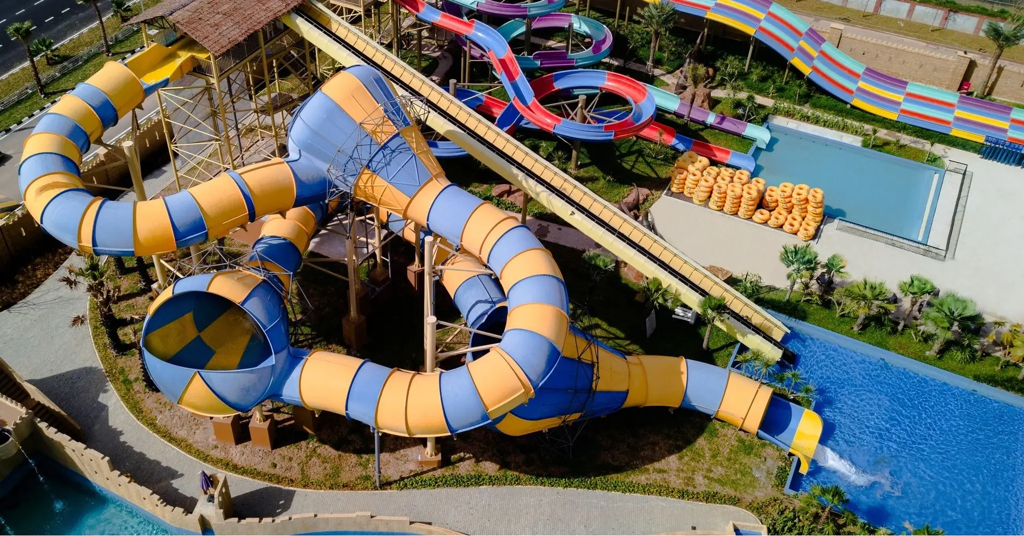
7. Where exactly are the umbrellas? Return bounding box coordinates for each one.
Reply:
[196,470,214,499]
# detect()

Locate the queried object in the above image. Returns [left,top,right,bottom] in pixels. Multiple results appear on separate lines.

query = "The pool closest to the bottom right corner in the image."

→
[735,330,1024,536]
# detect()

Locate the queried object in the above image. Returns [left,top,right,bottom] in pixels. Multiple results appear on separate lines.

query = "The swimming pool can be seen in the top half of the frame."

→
[752,123,934,243]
